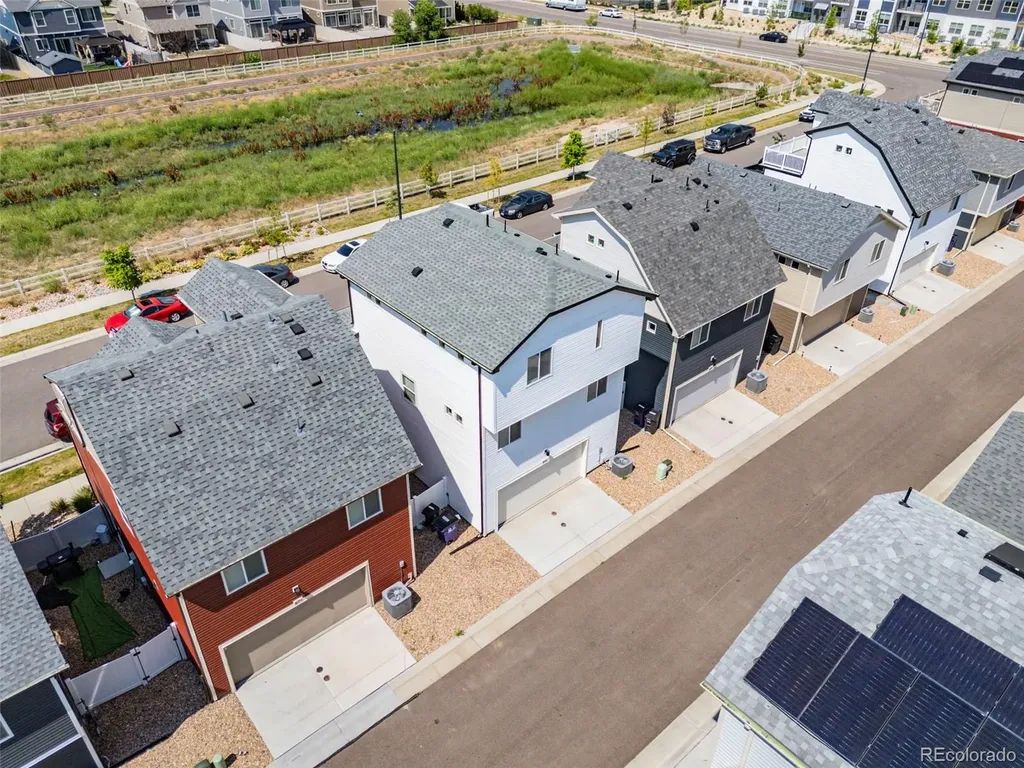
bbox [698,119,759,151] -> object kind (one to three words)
truck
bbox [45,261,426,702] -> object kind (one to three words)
house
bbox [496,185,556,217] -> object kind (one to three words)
car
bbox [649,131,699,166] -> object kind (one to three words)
car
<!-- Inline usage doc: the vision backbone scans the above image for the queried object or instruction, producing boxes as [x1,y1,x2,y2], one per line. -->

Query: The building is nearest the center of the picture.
[336,206,663,550]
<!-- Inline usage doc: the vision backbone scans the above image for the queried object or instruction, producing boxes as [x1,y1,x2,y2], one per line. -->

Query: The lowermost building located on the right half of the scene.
[692,482,1024,768]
